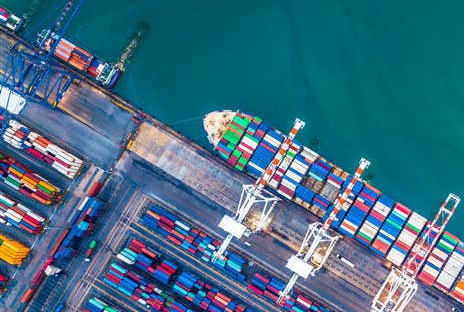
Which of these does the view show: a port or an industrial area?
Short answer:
port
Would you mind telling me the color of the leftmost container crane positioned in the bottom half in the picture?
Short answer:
white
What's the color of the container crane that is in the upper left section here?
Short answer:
blue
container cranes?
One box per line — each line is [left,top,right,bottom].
[212,120,304,263]
[367,191,462,312]
[0,0,87,134]
[277,159,369,301]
